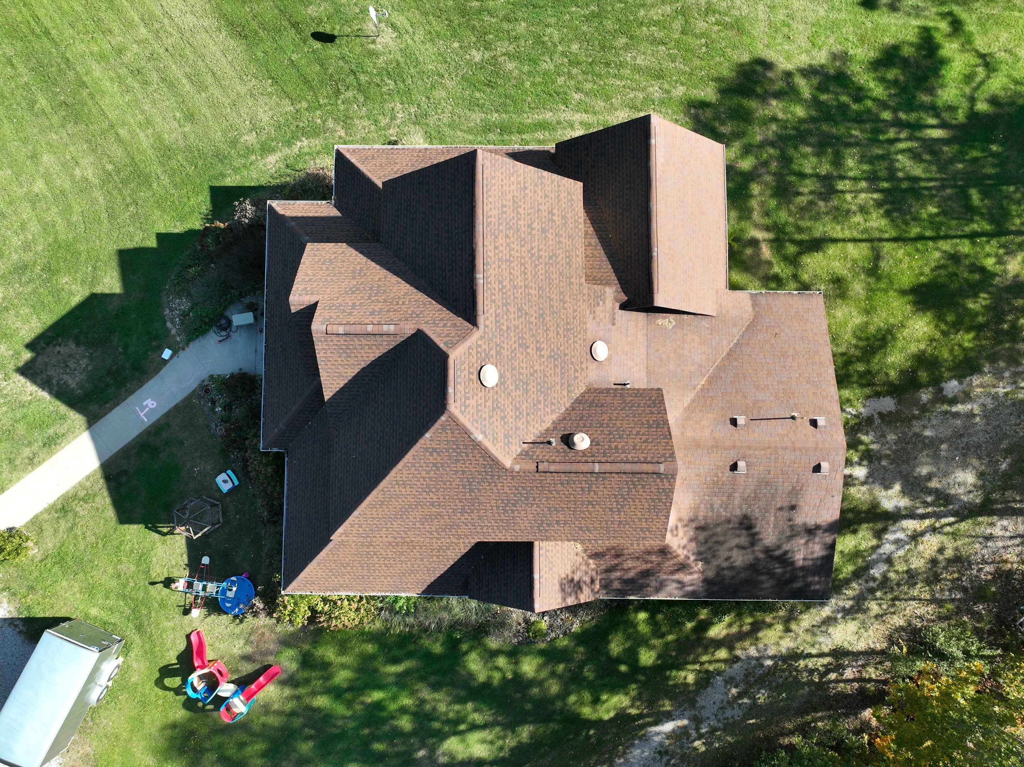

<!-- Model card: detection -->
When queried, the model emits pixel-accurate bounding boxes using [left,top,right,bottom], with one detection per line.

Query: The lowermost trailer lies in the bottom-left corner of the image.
[0,610,129,767]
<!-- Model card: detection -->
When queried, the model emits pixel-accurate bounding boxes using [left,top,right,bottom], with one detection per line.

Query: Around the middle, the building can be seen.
[261,114,846,617]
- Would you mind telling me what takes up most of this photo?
grass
